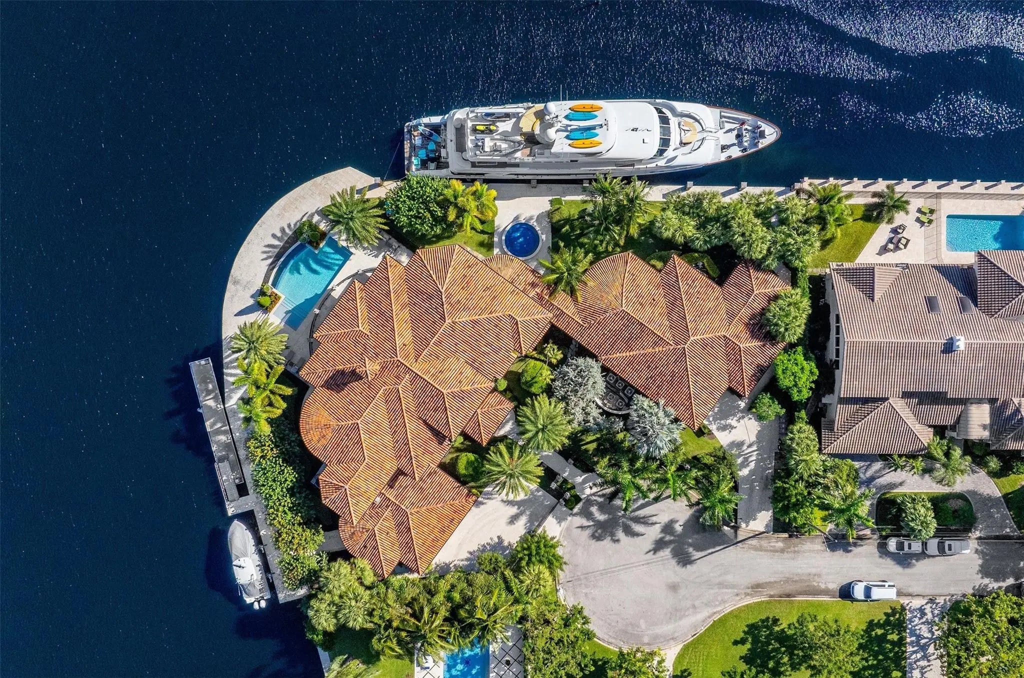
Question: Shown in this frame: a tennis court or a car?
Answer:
car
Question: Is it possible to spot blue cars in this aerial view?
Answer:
No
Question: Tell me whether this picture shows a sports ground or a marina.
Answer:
marina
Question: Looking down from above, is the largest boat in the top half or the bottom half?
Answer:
top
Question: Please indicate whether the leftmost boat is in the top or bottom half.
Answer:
bottom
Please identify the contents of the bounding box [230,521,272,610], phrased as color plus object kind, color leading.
white boat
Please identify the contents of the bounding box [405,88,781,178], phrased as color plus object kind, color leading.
white boat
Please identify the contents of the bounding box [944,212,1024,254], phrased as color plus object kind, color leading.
blue swimming pool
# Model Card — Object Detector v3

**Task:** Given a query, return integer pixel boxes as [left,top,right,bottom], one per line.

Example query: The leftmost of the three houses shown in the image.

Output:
[298,245,554,576]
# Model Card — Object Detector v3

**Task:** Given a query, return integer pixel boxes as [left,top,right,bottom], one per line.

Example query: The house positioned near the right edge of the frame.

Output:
[816,250,1024,453]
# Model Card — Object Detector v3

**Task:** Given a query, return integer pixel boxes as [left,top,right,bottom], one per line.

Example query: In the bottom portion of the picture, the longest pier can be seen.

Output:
[188,356,244,489]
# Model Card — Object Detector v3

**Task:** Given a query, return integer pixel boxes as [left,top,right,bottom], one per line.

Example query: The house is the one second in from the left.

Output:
[485,252,792,431]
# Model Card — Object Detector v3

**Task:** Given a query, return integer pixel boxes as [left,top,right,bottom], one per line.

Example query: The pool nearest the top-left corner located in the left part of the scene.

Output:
[267,237,352,330]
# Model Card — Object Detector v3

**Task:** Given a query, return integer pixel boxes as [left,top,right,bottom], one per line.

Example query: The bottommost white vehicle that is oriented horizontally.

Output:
[850,580,897,602]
